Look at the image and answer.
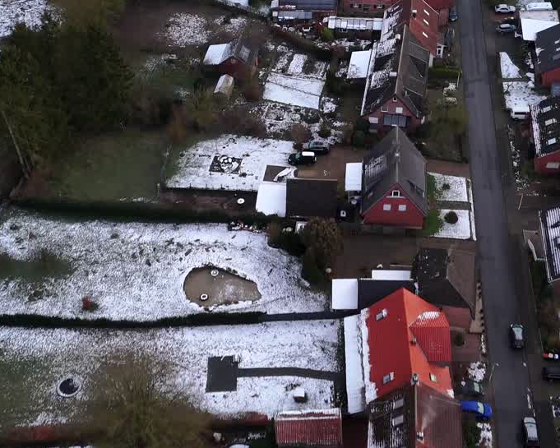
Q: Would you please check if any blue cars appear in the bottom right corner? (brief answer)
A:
Yes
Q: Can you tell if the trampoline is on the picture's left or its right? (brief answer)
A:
left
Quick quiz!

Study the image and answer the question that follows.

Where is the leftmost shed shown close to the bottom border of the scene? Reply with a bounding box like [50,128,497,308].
[276,405,343,448]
